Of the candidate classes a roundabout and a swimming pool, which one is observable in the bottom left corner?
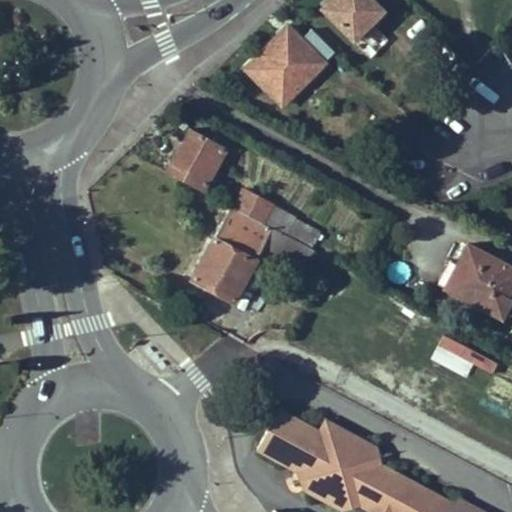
roundabout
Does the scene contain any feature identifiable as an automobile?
Yes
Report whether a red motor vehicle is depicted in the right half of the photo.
No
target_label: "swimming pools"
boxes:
[386,260,414,284]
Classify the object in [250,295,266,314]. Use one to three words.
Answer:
car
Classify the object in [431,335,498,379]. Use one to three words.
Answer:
shed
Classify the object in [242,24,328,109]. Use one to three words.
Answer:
house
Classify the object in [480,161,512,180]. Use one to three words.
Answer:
vehicle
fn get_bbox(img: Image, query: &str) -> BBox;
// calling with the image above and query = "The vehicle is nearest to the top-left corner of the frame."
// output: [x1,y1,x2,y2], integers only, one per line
[210,4,233,19]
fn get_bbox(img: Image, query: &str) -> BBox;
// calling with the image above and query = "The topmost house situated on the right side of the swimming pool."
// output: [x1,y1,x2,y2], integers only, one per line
[437,242,512,324]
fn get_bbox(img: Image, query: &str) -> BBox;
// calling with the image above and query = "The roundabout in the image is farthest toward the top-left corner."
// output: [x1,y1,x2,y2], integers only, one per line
[0,0,130,186]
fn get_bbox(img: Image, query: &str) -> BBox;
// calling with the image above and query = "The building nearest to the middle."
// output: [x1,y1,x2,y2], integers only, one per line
[184,186,320,304]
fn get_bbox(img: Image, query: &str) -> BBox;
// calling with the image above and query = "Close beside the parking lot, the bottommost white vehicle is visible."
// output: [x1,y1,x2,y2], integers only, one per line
[446,180,468,199]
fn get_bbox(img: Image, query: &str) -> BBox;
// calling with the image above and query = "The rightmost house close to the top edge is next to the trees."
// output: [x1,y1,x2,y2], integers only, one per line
[320,0,388,58]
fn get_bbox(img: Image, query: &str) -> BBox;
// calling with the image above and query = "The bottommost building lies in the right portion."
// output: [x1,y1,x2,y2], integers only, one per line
[256,411,476,512]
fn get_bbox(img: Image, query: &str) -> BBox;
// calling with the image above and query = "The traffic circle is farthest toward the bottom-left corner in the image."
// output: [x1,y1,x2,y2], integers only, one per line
[0,356,209,512]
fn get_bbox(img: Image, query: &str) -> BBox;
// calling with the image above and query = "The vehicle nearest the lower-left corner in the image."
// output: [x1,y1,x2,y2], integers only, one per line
[40,380,54,402]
